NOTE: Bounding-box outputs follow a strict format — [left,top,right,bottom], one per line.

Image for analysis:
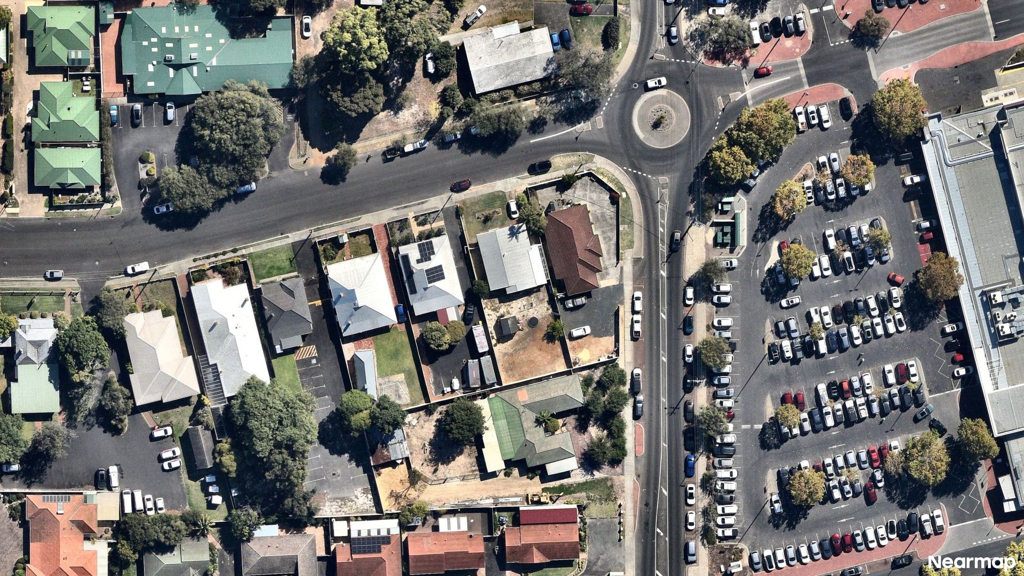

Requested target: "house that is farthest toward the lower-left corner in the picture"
[26,492,119,576]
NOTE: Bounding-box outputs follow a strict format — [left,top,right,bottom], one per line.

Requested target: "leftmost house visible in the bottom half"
[0,318,59,414]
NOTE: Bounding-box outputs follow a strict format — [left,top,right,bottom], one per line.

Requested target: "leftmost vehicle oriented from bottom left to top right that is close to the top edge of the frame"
[466,6,485,25]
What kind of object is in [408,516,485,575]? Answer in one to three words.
house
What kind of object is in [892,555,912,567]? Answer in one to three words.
vehicle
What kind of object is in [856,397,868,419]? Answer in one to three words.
vehicle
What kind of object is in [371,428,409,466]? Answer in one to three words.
shed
